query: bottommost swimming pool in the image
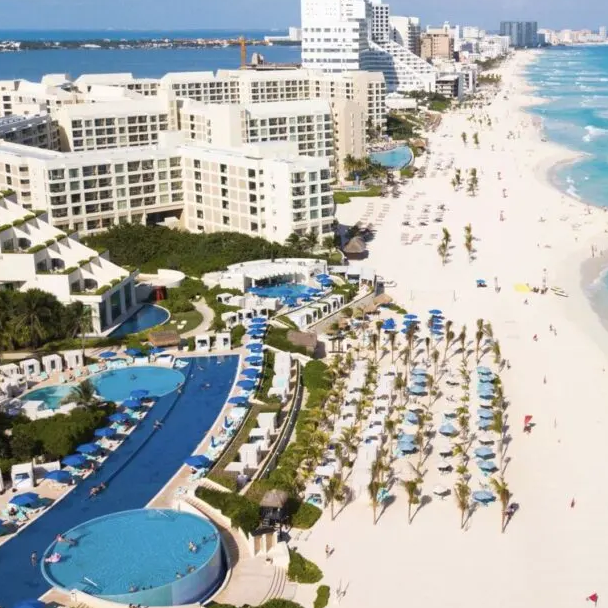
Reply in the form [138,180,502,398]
[39,506,236,608]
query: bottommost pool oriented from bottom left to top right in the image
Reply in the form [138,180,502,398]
[0,354,240,608]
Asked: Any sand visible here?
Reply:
Yes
